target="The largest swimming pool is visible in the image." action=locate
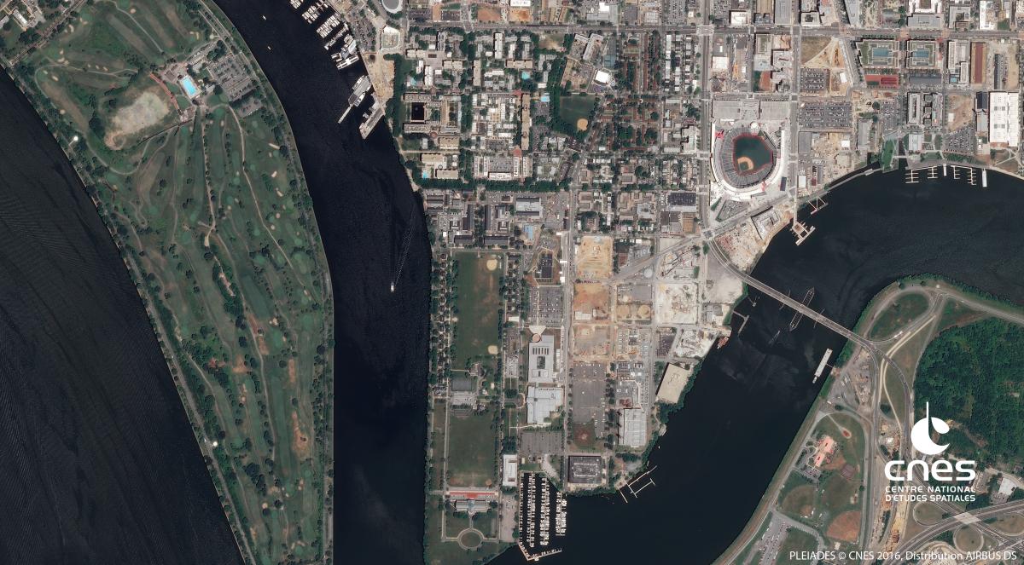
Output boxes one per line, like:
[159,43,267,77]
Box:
[181,74,199,96]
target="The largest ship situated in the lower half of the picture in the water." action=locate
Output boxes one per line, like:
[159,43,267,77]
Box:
[815,349,831,377]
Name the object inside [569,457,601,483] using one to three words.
building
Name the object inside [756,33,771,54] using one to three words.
building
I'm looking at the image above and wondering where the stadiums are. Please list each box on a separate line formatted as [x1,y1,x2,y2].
[711,119,785,199]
